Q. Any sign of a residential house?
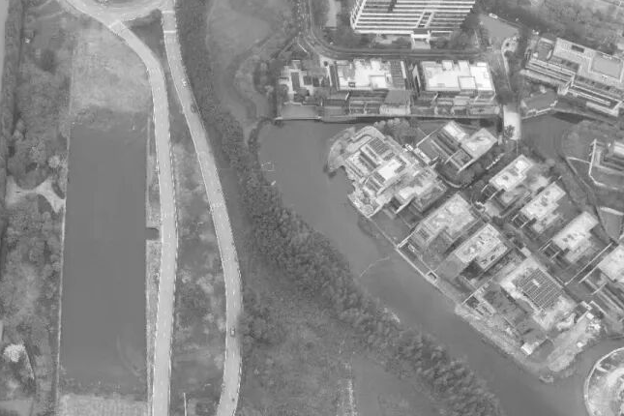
Yes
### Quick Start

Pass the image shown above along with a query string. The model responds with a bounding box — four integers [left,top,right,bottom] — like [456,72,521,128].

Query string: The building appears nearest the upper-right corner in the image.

[519,39,624,118]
